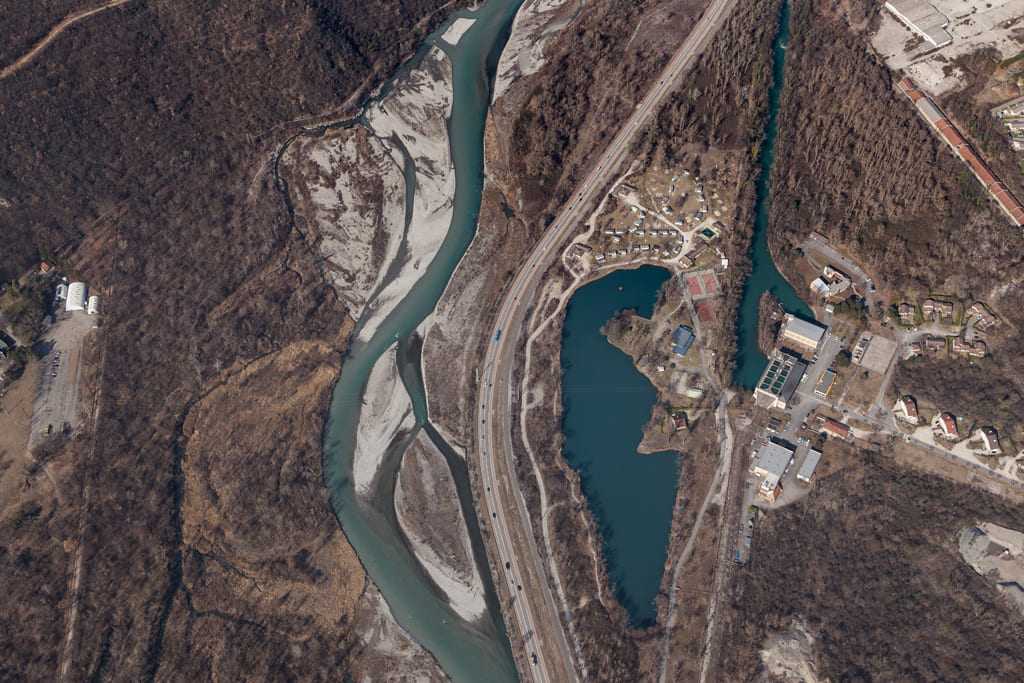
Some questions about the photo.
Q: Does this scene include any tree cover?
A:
Yes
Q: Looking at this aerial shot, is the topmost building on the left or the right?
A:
right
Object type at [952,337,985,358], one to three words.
house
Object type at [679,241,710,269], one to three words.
building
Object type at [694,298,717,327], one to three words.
tennis court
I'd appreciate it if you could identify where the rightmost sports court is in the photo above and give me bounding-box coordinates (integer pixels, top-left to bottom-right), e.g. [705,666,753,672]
[861,335,898,372]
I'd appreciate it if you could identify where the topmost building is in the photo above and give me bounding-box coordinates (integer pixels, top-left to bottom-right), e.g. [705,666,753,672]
[885,0,953,54]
